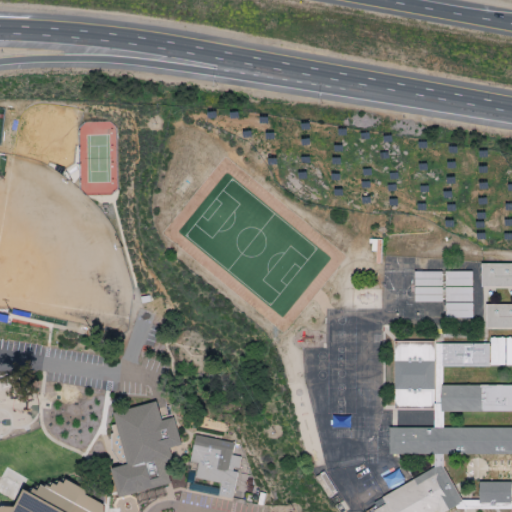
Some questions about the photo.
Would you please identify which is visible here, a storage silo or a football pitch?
football pitch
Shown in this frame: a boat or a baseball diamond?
baseball diamond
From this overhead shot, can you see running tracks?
Yes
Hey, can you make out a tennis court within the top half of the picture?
Yes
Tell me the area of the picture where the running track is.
center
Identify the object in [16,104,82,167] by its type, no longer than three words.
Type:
baseball field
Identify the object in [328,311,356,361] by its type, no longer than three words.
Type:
basketball court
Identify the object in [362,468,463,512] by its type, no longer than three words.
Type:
building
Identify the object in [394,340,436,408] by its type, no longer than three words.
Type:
building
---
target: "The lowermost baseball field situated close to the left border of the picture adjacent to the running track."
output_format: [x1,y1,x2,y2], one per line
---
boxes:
[0,154,132,319]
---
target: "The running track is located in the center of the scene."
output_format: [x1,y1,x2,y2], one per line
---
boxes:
[164,156,346,332]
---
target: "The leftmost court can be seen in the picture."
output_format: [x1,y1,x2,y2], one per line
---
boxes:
[80,122,118,194]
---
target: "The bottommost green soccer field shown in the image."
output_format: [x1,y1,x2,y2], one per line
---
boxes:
[180,173,330,317]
